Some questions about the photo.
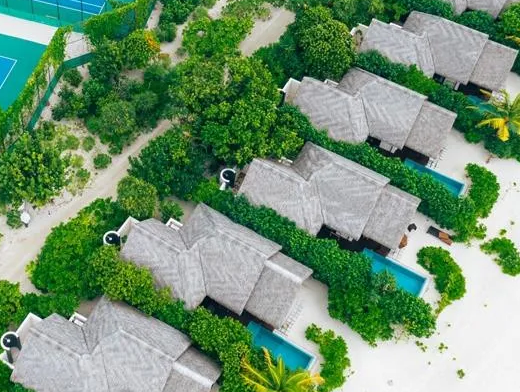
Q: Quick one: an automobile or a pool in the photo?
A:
pool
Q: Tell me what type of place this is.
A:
residential area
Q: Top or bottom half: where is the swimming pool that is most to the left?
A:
bottom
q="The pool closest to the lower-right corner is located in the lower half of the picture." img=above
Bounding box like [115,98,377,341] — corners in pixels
[363,243,431,300]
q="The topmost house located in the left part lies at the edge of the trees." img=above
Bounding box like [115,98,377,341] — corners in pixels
[100,198,313,340]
